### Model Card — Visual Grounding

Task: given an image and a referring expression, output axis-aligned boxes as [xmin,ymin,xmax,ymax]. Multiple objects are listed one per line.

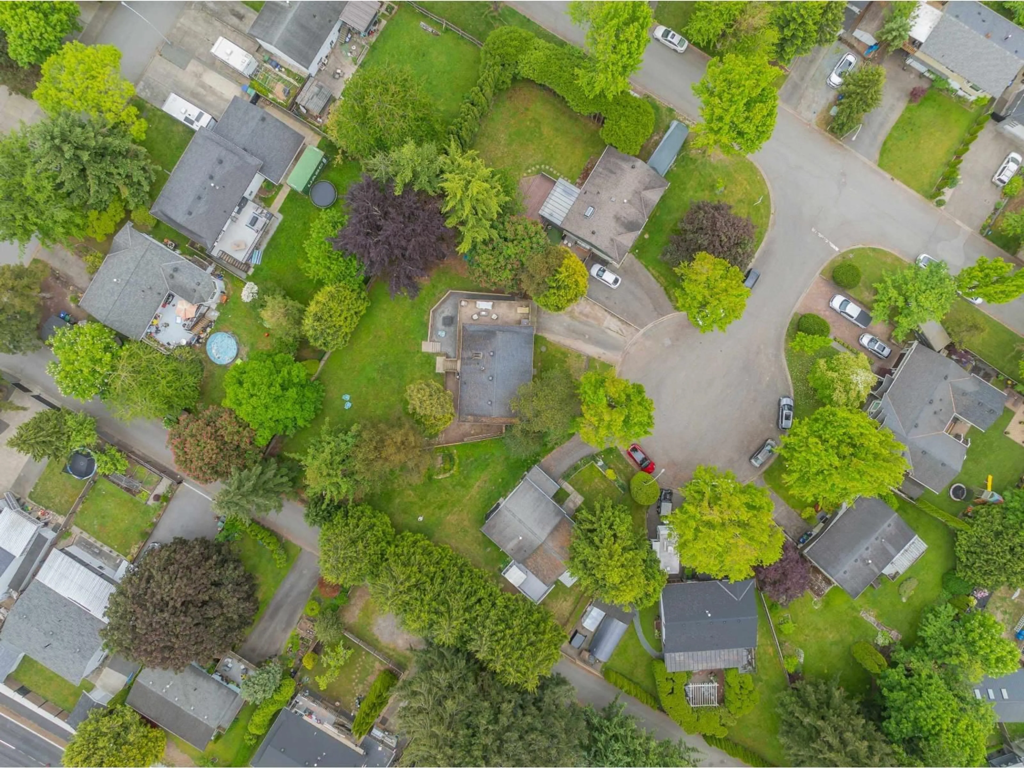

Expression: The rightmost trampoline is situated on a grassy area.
[950,484,980,505]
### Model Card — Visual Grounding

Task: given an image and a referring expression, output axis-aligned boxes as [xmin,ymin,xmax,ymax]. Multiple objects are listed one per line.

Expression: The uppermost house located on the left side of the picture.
[247,0,369,82]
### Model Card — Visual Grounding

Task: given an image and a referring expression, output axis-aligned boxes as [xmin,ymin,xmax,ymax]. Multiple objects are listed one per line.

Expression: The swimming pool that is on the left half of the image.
[206,332,241,365]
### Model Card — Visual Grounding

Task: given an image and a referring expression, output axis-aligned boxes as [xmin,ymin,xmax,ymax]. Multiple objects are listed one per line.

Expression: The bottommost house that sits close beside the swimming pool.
[78,224,231,348]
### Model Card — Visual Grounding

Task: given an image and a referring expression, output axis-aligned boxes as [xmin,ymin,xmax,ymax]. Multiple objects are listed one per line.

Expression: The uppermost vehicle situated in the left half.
[210,36,262,80]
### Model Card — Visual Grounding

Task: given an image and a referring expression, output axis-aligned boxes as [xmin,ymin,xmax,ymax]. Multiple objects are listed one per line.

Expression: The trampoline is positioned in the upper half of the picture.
[307,179,336,207]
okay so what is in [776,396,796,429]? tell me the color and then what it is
gray car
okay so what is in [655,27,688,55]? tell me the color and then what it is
white car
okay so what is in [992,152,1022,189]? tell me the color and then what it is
white car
